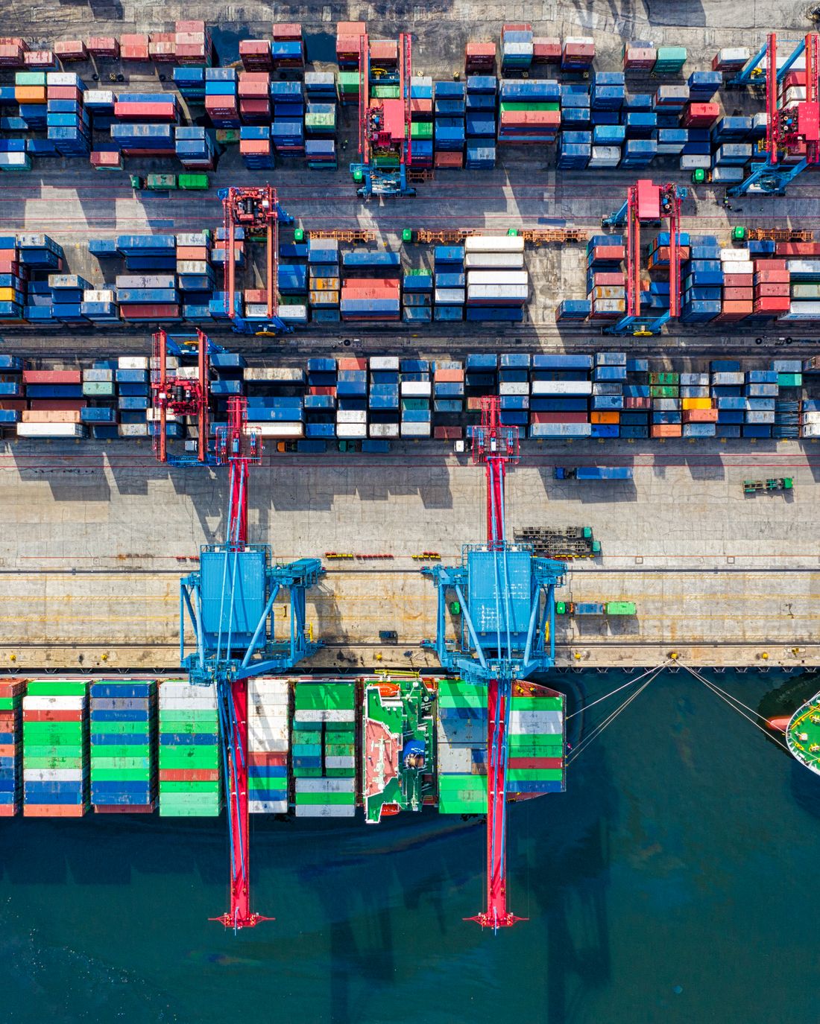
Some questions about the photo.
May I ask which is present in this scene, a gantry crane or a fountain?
gantry crane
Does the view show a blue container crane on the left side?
Yes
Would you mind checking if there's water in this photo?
Yes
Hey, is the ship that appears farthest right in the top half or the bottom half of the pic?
bottom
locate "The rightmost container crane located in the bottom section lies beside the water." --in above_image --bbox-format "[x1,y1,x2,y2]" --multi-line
[417,399,568,941]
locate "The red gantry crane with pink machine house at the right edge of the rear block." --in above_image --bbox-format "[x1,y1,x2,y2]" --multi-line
[723,33,820,195]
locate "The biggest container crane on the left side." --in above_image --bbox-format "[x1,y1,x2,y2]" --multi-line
[176,399,332,942]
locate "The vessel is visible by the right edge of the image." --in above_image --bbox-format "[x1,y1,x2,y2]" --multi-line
[769,692,820,774]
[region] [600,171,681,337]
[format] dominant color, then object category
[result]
red container crane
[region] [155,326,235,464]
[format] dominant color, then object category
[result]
red container crane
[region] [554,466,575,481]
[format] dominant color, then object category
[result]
blue vehicle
